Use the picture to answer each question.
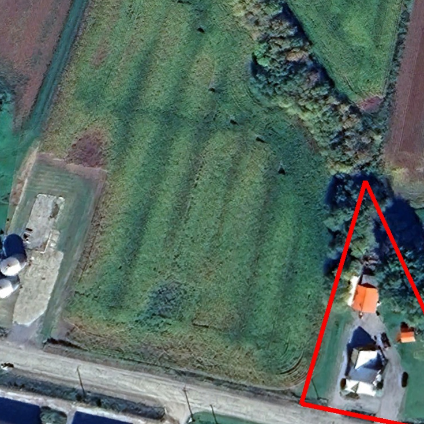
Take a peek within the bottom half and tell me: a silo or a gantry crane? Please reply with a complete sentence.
Looking within the bottom half, you will find a silo.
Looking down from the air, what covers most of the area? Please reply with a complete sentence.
The bulk of the photo consists of grass.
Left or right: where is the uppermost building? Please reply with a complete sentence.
The uppermost building sits on the right side.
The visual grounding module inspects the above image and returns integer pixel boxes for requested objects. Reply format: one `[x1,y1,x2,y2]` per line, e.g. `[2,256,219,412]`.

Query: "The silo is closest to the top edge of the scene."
[1,253,27,277]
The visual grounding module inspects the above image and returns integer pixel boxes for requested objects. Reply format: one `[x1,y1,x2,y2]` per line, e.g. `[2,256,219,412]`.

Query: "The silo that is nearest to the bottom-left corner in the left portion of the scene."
[0,276,17,297]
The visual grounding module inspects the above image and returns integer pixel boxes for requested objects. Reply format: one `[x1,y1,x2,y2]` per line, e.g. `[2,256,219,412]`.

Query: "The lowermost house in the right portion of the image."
[344,343,384,397]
